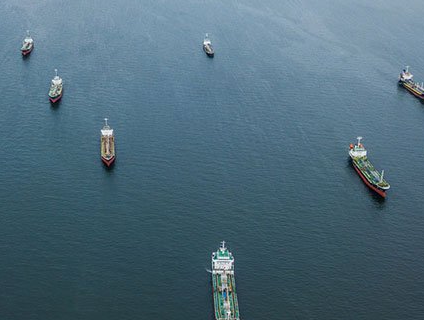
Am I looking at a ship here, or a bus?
ship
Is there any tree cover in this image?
No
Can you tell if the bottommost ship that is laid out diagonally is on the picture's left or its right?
right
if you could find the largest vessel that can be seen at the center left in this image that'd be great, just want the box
[101,117,115,167]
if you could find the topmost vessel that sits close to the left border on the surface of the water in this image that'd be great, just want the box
[20,32,34,54]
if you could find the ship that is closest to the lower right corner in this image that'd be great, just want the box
[344,138,392,196]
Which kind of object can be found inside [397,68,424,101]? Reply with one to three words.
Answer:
ship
